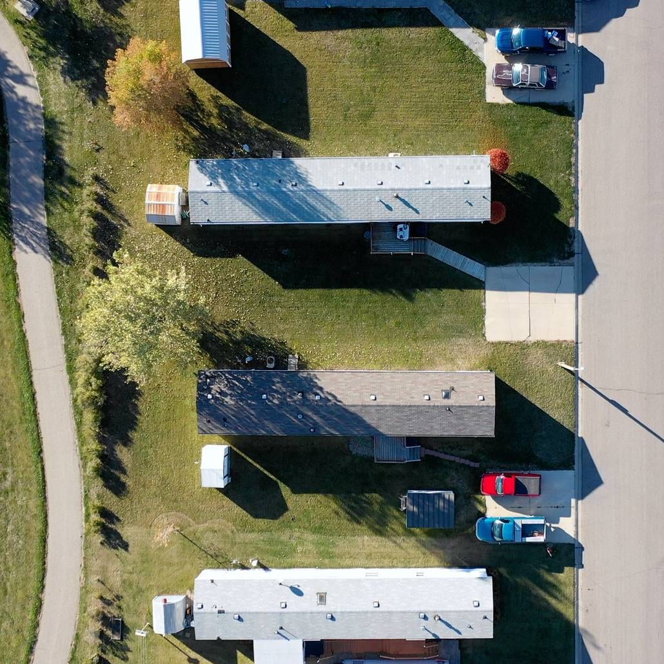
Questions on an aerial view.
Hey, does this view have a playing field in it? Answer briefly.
No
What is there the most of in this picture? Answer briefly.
paved ground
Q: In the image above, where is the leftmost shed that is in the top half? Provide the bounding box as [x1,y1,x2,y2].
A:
[140,184,185,225]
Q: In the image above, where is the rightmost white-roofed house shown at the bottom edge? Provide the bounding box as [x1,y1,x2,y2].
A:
[193,569,494,641]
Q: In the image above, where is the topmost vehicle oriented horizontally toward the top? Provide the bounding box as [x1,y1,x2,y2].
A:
[494,24,567,55]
